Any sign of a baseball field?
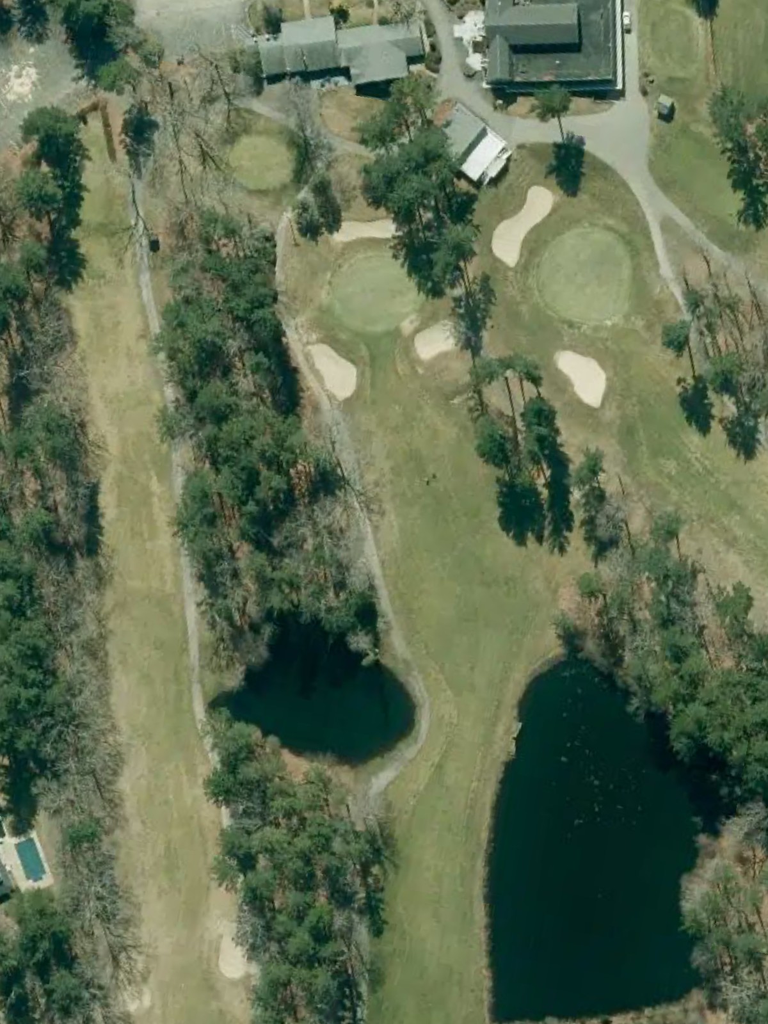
No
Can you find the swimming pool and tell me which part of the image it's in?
bottom left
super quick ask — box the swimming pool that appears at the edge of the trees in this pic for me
[0,831,53,892]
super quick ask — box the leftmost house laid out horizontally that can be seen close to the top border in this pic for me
[257,17,425,85]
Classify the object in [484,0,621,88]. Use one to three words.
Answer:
building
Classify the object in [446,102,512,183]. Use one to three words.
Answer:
building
